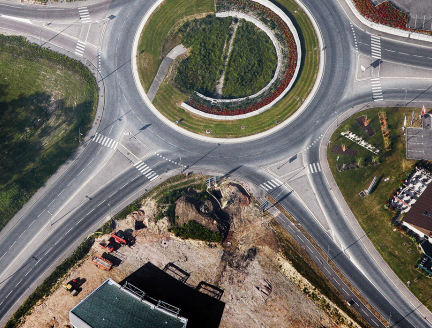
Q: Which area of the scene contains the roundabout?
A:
top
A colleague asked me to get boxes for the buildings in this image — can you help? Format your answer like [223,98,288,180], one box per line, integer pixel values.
[402,182,432,240]
[69,279,187,328]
